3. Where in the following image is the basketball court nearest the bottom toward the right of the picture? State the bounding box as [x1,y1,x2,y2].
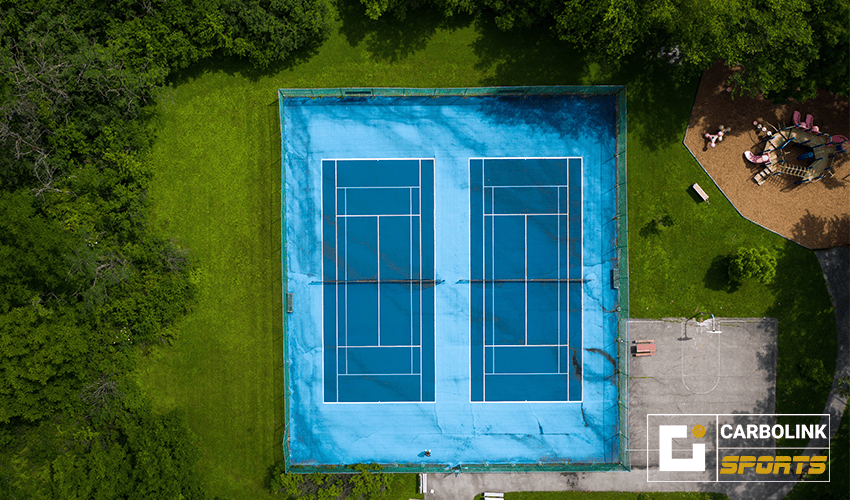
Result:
[621,318,776,473]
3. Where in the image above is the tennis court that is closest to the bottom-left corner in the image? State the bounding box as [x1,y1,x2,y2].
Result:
[321,159,436,404]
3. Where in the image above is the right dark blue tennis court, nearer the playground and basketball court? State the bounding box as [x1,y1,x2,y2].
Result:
[469,157,584,403]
